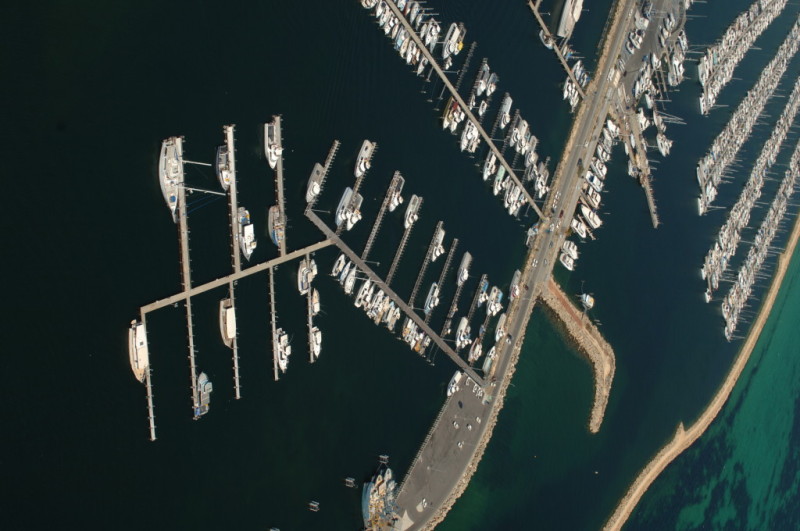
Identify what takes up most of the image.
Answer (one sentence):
What you mostly see from above here is water.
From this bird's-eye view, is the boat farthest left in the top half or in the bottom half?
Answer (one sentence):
The bottom half of the photo is where the boat farthest left is.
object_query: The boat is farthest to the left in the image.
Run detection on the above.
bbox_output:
[128,321,152,383]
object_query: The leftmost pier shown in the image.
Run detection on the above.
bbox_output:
[139,315,158,440]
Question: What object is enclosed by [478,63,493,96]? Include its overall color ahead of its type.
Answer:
gray boat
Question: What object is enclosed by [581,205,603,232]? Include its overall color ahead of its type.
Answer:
white boat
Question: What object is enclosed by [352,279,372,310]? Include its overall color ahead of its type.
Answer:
white boat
